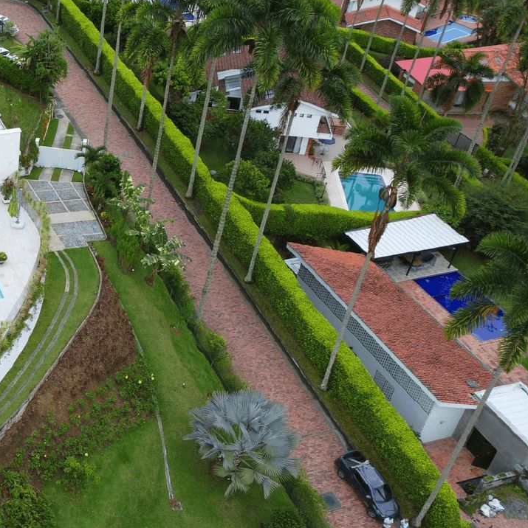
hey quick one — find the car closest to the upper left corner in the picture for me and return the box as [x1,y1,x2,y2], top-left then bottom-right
[0,12,25,40]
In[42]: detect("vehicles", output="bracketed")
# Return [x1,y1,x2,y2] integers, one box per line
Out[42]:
[0,40,23,68]
[333,443,407,527]
[0,12,25,40]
